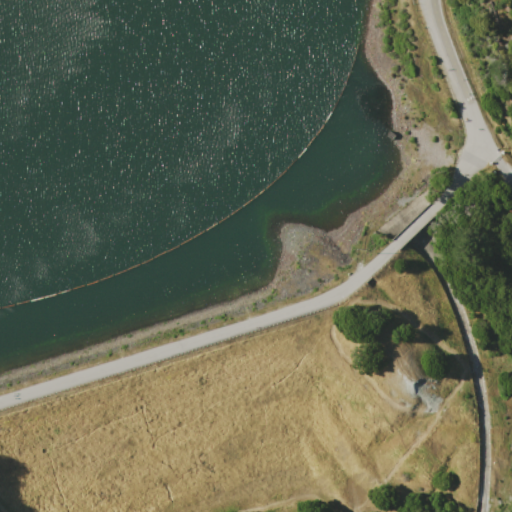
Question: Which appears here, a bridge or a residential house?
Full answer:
There is a bridge in the scene.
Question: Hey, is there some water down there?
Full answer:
Yes, water shows up in the scene.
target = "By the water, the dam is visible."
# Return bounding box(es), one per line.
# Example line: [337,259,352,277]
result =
[0,283,398,512]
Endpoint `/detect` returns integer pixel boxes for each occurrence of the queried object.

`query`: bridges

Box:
[392,202,442,250]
